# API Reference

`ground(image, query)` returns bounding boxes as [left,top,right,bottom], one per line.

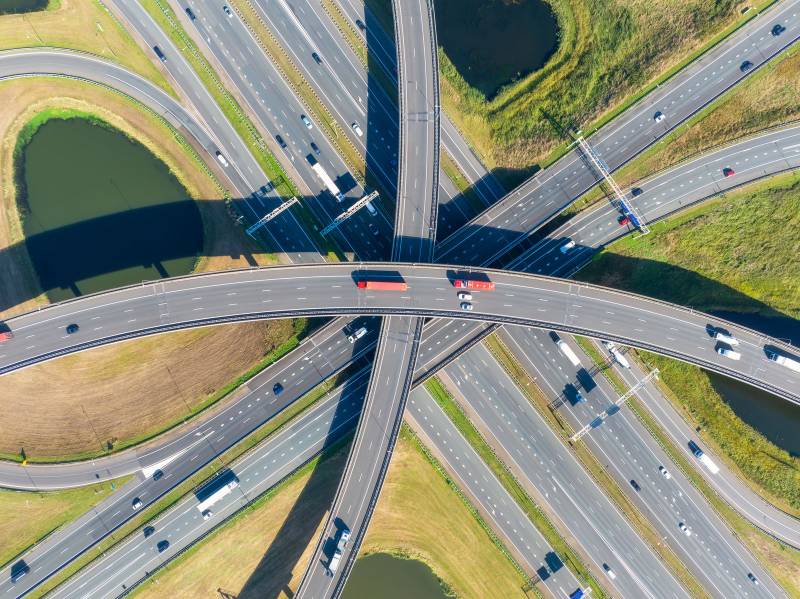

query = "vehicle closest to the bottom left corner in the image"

[13,565,31,579]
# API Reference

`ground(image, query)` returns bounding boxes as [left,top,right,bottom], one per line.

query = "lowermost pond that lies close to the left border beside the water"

[20,116,205,304]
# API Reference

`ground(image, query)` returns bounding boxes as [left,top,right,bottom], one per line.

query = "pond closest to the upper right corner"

[433,0,559,100]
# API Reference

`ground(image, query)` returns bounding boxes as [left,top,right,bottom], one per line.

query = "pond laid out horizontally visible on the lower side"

[341,553,452,599]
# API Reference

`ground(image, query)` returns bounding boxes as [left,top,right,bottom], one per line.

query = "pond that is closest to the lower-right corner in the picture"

[686,304,800,458]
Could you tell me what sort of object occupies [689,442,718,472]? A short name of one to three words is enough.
truck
